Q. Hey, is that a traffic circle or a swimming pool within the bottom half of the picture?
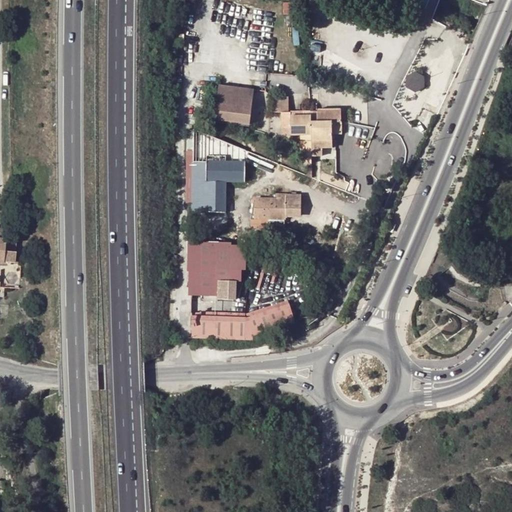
traffic circle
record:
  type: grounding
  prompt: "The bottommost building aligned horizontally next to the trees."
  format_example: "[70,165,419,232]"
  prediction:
[191,299,292,340]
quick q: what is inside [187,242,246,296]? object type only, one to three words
hangar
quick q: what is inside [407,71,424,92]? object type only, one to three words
gazebo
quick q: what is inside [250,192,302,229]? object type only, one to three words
house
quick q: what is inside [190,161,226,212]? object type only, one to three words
building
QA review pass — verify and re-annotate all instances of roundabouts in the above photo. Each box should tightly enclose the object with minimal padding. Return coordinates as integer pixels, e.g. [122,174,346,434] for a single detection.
[316,332,408,424]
